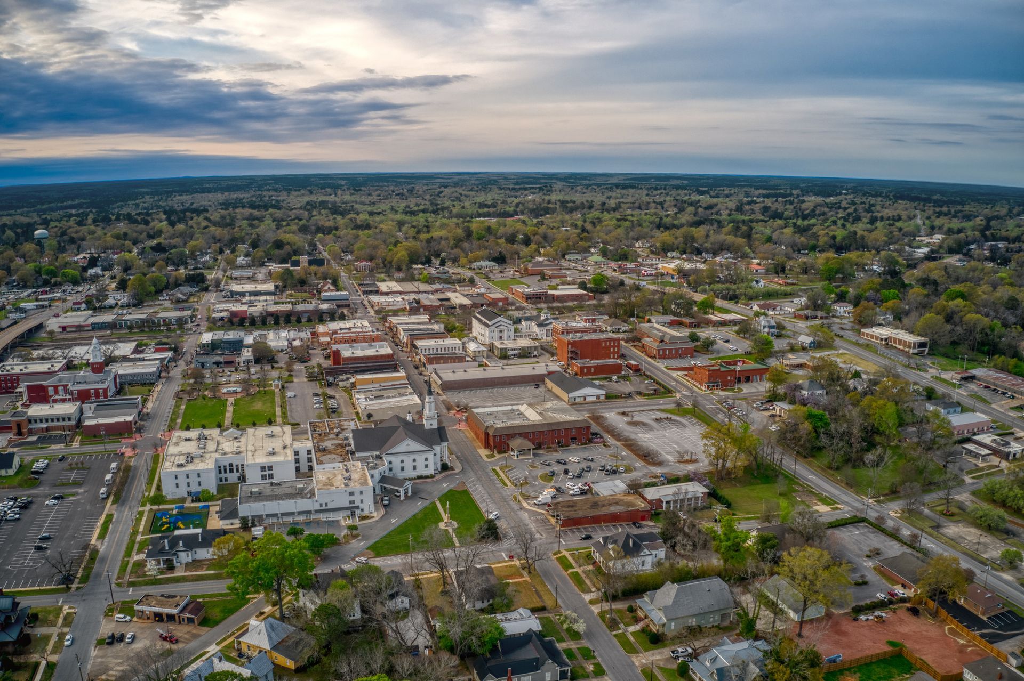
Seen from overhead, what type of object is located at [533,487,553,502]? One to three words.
vehicle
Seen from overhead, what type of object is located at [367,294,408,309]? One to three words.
building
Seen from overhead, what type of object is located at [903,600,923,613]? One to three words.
vehicle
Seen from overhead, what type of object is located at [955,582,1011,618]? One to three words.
house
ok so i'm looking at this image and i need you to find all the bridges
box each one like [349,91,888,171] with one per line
[0,304,56,355]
